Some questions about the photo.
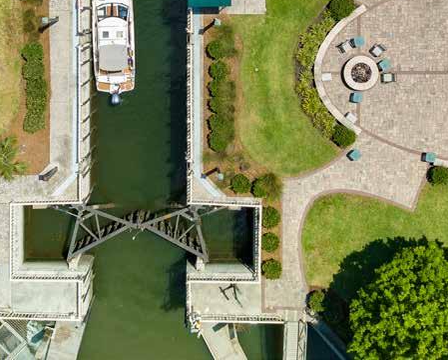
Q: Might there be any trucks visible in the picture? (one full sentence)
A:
No, there's no truck here.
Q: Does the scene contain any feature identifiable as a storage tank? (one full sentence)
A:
No, there isn't any storage tank down there.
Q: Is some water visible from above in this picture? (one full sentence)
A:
Yes, the picture does contain water.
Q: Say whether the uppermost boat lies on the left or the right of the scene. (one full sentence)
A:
You can find the uppermost boat on the left side of the picture.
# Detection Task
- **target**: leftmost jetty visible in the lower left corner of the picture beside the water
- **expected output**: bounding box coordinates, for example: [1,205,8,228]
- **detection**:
[45,320,84,360]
